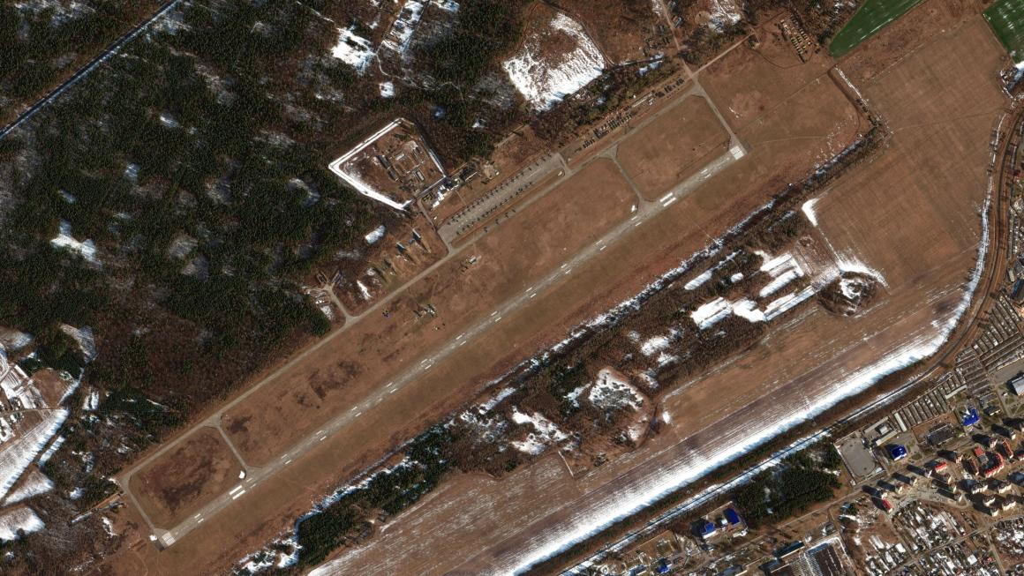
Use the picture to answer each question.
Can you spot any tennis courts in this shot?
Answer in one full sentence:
No, there's no tennis court here.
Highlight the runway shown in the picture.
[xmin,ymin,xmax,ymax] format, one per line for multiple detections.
[159,143,747,548]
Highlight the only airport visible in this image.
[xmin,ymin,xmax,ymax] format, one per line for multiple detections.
[118,79,753,550]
